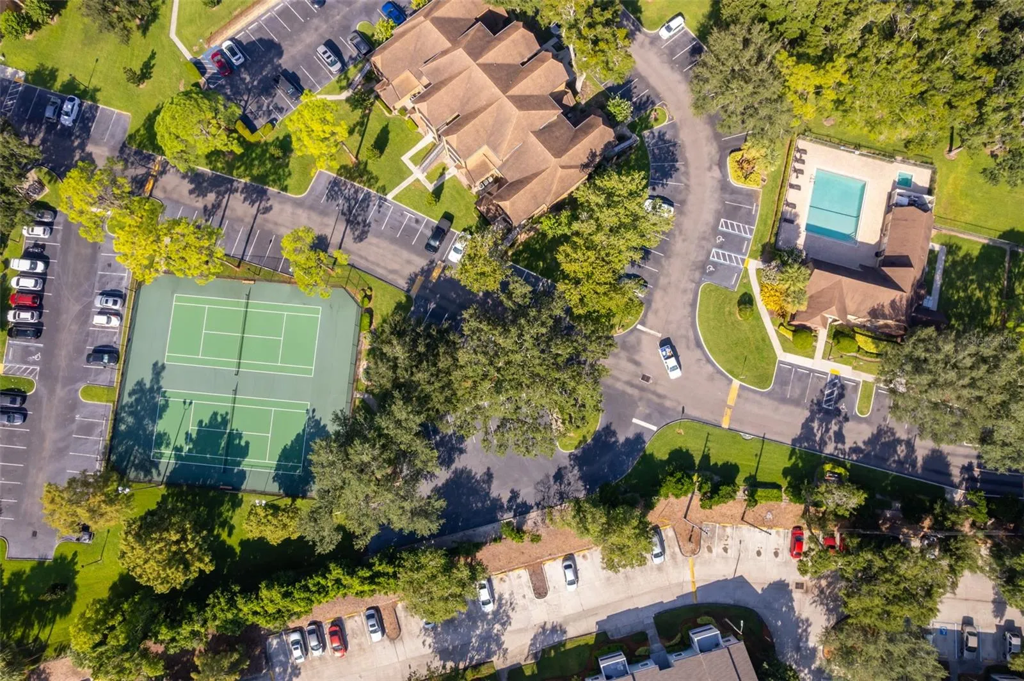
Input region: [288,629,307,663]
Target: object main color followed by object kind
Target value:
white car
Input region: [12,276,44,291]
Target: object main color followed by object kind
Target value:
white car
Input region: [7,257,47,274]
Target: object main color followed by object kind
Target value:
white vehicle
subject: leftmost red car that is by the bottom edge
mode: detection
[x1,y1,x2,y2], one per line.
[328,622,346,655]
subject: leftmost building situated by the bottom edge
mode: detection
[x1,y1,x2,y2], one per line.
[598,614,757,681]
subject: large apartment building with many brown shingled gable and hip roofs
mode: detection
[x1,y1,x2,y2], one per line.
[366,0,622,235]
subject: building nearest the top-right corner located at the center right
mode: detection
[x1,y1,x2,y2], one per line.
[790,207,944,339]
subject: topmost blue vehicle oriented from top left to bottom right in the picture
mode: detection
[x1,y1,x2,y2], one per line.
[380,0,405,27]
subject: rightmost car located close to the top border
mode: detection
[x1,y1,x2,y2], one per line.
[658,14,686,40]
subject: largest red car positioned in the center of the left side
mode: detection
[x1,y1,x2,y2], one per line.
[9,291,41,307]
